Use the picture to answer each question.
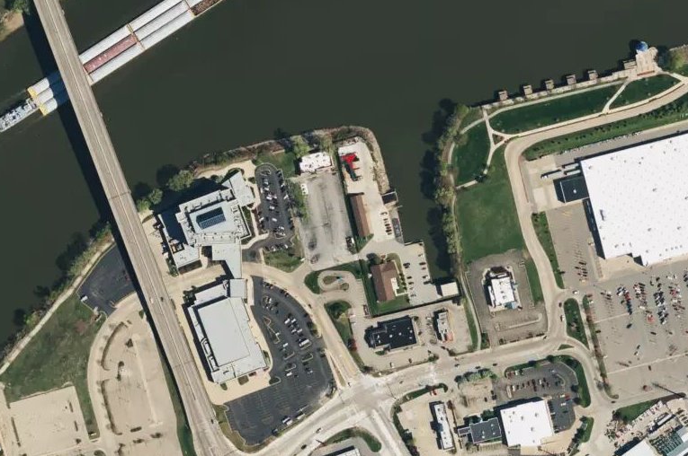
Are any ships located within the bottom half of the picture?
No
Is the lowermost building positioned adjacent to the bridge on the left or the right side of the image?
left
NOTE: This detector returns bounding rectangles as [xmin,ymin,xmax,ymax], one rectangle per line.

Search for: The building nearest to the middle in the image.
[350,193,371,238]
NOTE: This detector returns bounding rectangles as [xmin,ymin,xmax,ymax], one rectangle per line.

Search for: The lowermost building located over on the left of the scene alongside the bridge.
[188,279,267,382]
